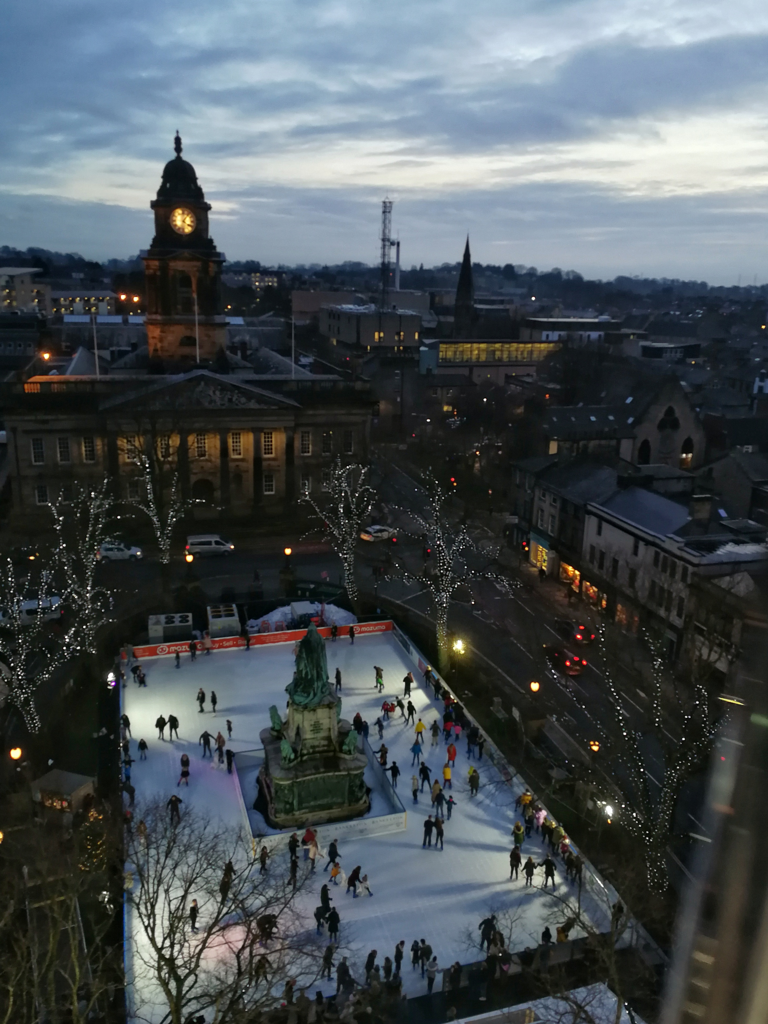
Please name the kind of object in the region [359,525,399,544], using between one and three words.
car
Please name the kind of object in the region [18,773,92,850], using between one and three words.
shed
